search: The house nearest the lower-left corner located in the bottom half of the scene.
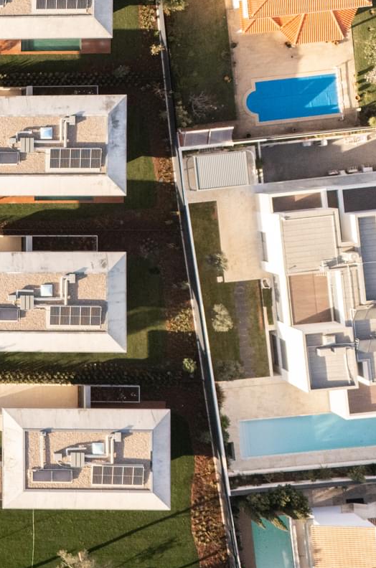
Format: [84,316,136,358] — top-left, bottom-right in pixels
[0,409,171,510]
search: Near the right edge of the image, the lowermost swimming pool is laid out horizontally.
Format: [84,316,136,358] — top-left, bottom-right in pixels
[239,418,376,458]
